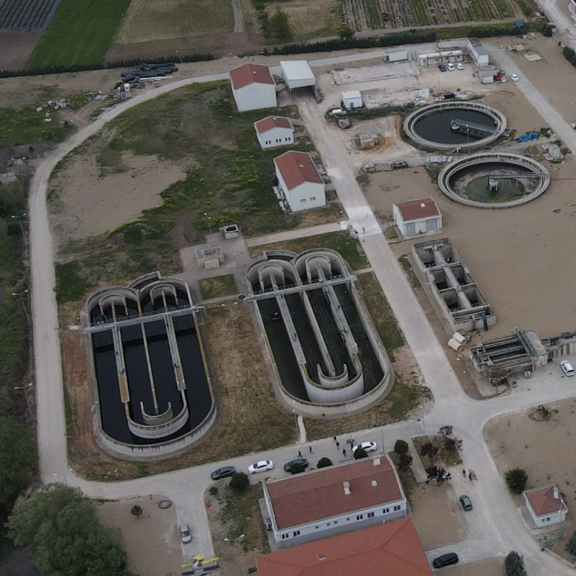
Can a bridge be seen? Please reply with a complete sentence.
Yes, the picture does show a bridge.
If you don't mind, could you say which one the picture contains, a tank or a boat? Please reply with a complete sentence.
It is a tank that can be seen here.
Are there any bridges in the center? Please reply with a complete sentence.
Yes, a bridge shows up in the center.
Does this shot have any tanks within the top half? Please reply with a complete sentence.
Yes, you'll find a tank within the top half.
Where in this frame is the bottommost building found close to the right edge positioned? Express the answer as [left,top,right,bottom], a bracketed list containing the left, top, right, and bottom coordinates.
[519,481,575,533]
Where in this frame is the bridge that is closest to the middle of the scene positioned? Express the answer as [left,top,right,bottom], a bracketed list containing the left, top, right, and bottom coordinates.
[241,272,359,306]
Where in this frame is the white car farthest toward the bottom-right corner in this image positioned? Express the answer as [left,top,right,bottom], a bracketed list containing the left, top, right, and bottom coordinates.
[563,361,576,376]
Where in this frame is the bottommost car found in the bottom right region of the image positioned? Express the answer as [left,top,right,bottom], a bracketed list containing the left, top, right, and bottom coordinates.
[431,551,460,567]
